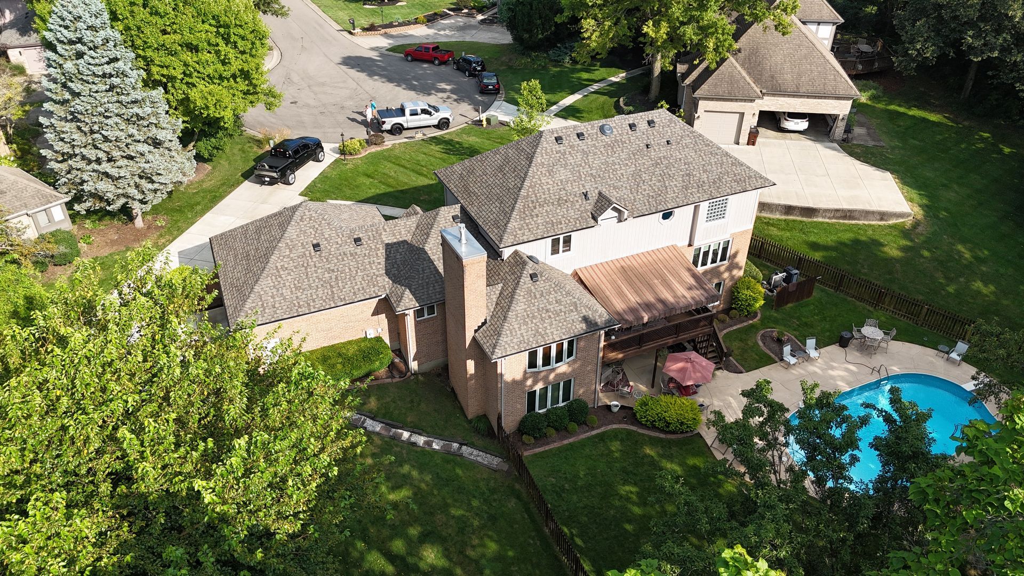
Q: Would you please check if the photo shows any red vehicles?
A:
Yes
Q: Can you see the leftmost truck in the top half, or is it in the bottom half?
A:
top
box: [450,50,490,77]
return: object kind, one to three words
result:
car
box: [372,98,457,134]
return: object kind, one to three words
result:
truck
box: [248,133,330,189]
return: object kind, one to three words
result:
truck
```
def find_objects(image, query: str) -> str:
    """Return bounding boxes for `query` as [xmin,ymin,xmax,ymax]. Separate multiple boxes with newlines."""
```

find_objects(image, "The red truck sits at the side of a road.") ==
[401,41,456,65]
